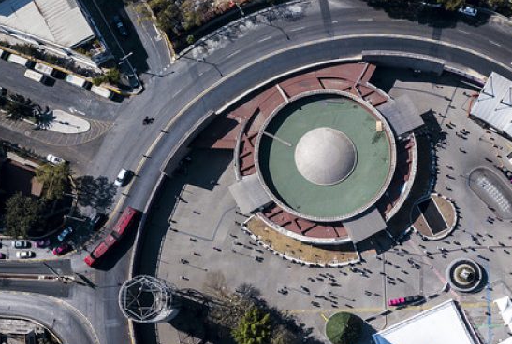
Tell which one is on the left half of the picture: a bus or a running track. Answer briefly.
bus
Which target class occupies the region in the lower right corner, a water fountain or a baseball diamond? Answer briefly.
water fountain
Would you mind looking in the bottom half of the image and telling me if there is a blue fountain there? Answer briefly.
No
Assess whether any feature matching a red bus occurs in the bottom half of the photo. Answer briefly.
Yes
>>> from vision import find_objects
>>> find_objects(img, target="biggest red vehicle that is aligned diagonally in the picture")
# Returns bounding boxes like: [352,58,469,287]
[83,208,136,264]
